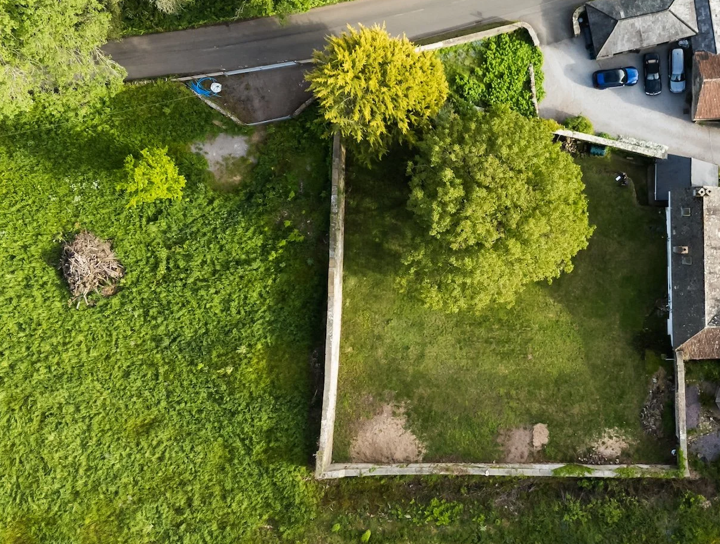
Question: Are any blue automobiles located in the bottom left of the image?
No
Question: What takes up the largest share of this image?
grass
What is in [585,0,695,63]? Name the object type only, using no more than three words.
building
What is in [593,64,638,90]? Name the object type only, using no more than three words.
car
